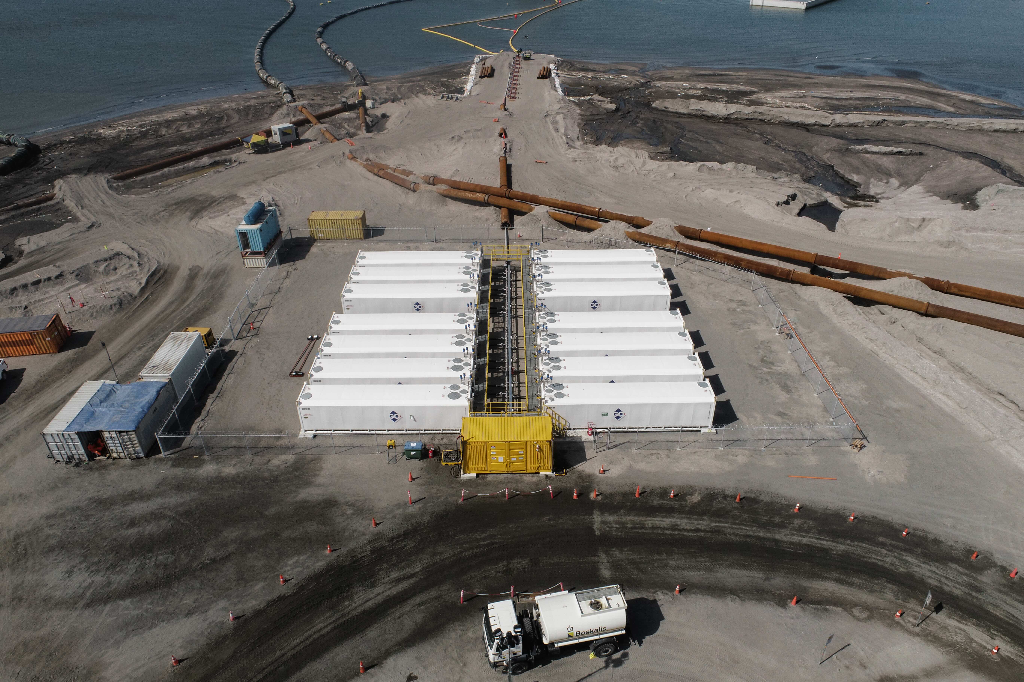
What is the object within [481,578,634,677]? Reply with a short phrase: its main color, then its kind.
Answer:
white truck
